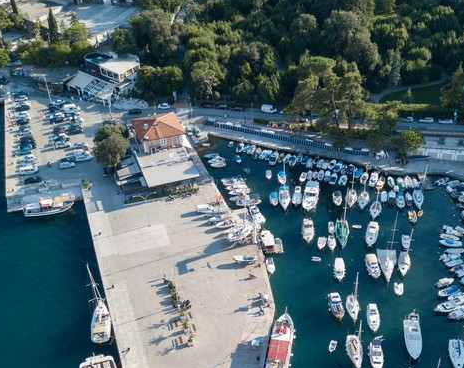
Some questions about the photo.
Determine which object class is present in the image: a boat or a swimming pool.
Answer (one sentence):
I can see a boat in this picture.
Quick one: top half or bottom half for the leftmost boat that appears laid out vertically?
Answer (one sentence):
The leftmost boat that appears laid out vertically sits in the bottom half of the picture.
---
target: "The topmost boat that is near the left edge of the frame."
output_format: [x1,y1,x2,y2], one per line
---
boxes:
[23,189,73,219]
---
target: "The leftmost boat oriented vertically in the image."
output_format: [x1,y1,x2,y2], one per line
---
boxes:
[88,280,110,346]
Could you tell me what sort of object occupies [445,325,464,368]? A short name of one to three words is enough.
boat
